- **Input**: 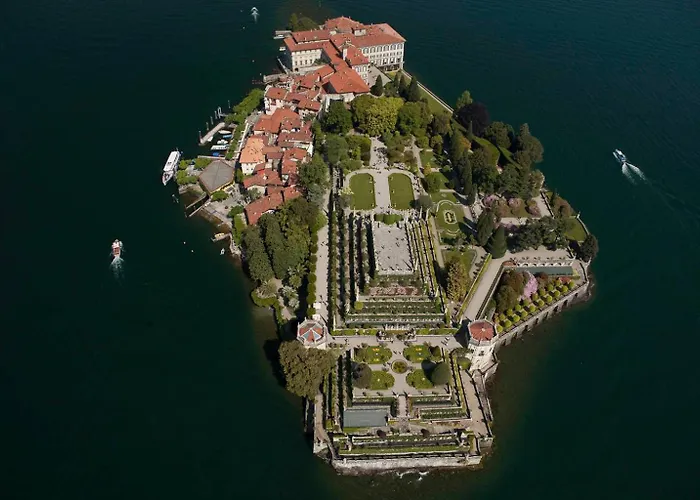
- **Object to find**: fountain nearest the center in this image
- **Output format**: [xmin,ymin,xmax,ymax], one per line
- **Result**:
[392,359,408,374]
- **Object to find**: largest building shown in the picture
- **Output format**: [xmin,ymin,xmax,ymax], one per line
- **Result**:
[285,18,406,105]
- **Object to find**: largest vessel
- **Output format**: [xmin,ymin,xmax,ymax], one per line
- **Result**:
[162,148,182,185]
